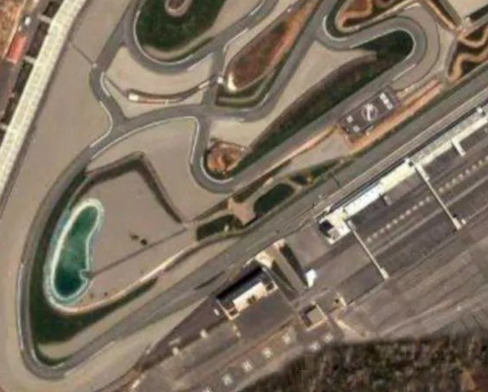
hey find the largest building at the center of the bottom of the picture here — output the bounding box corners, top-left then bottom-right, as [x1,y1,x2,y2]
[216,265,277,319]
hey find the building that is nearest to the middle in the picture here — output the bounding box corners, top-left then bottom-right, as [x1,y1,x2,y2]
[246,238,286,268]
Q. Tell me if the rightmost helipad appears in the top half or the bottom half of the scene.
top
